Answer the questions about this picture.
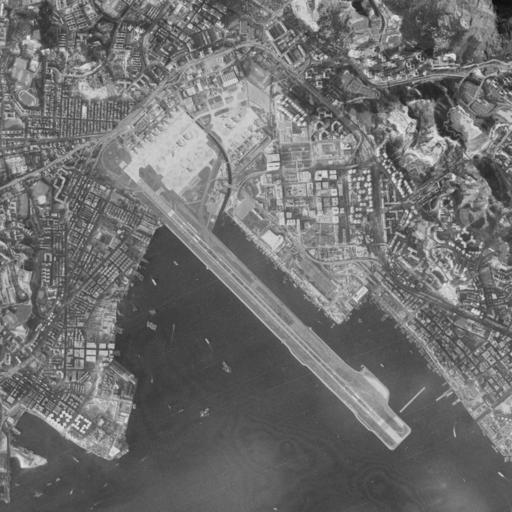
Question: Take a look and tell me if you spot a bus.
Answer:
No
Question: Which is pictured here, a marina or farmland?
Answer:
marina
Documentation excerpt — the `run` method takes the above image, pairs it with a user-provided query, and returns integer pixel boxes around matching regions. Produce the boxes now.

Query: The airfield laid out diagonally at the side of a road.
[101,100,409,448]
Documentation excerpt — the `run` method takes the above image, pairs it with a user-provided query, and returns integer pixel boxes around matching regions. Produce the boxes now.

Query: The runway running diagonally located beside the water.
[132,176,402,444]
